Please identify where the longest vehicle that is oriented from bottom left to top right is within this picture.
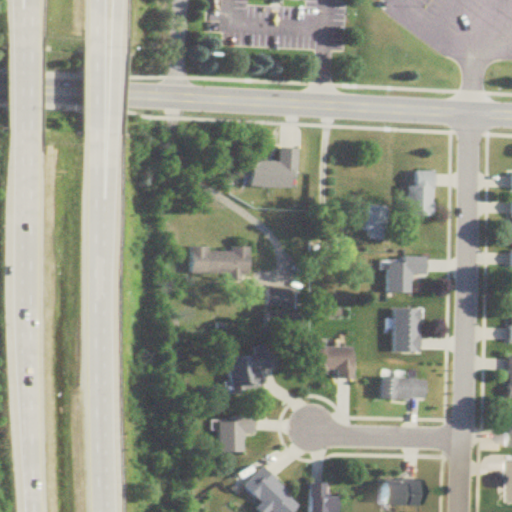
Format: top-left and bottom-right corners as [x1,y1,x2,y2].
[239,464,256,478]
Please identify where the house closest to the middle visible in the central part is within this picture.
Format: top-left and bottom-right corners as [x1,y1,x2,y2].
[191,246,252,281]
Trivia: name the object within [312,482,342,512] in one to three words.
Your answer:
house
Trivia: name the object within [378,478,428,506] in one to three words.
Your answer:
house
